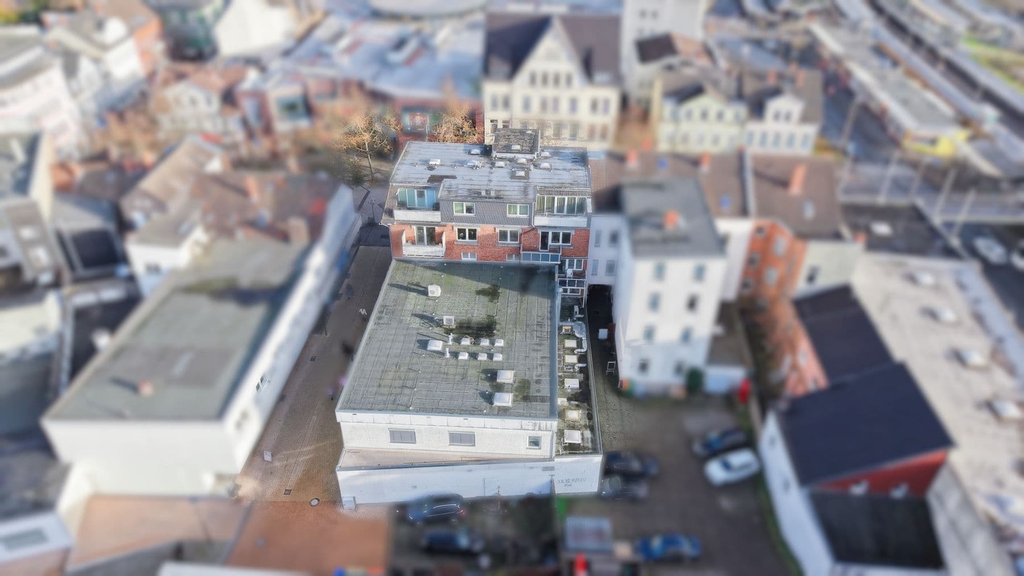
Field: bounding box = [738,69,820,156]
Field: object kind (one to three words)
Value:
house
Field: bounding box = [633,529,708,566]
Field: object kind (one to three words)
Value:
car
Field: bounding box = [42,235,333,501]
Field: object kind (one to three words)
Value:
building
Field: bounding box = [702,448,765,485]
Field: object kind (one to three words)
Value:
car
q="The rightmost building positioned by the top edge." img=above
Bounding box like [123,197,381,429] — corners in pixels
[810,23,963,176]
